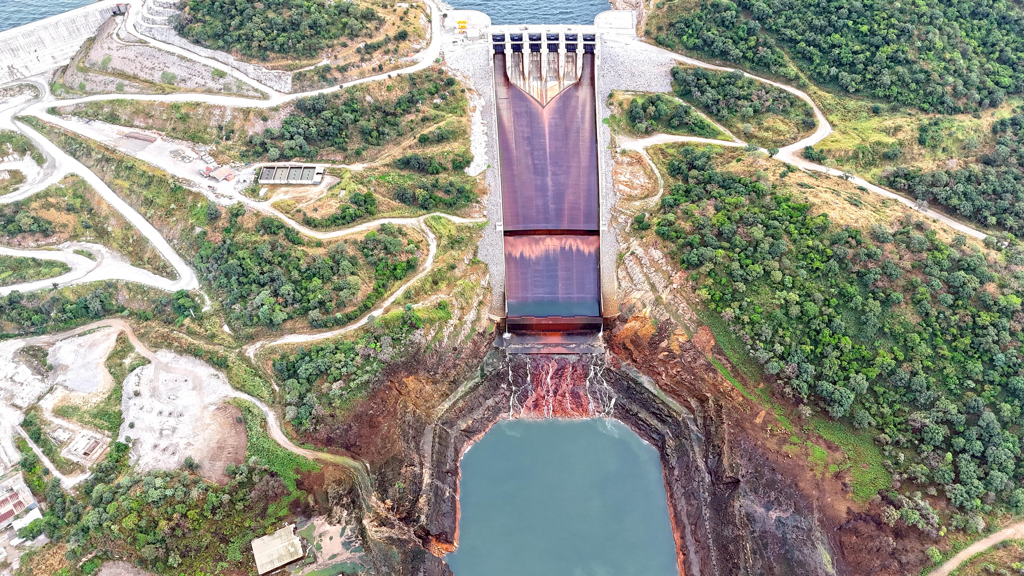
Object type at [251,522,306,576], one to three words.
shed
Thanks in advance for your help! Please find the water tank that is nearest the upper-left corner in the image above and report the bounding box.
[258,166,319,188]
